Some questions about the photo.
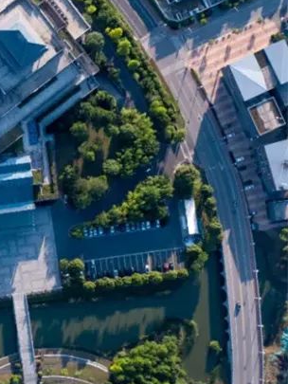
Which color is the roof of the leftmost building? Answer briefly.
blue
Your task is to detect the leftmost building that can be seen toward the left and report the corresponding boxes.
[0,154,36,215]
